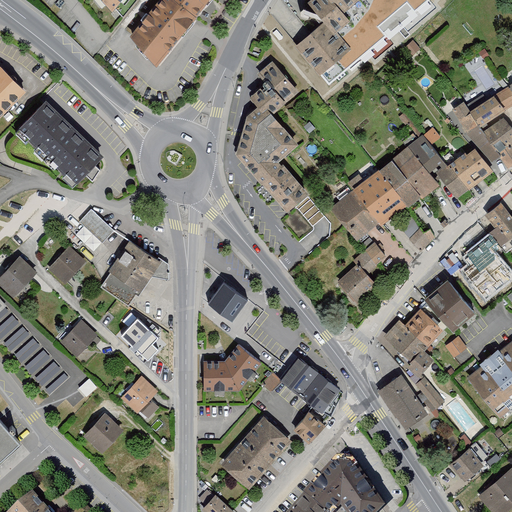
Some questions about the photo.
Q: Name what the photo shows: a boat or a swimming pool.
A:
swimming pool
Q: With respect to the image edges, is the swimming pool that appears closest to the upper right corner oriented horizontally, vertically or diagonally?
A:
diagonally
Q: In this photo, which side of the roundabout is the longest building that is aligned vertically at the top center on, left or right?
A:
on its right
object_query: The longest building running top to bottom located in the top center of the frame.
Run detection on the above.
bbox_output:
[236,61,308,212]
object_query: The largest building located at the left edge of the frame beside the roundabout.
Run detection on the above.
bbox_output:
[14,101,103,188]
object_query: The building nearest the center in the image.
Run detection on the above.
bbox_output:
[208,283,247,322]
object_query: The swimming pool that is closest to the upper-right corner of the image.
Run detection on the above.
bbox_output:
[474,64,496,90]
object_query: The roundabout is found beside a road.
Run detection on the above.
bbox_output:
[138,116,220,208]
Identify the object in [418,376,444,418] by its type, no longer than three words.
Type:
shed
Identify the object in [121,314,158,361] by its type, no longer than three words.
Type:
house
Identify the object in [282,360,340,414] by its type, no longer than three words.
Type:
building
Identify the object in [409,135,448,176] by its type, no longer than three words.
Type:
house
